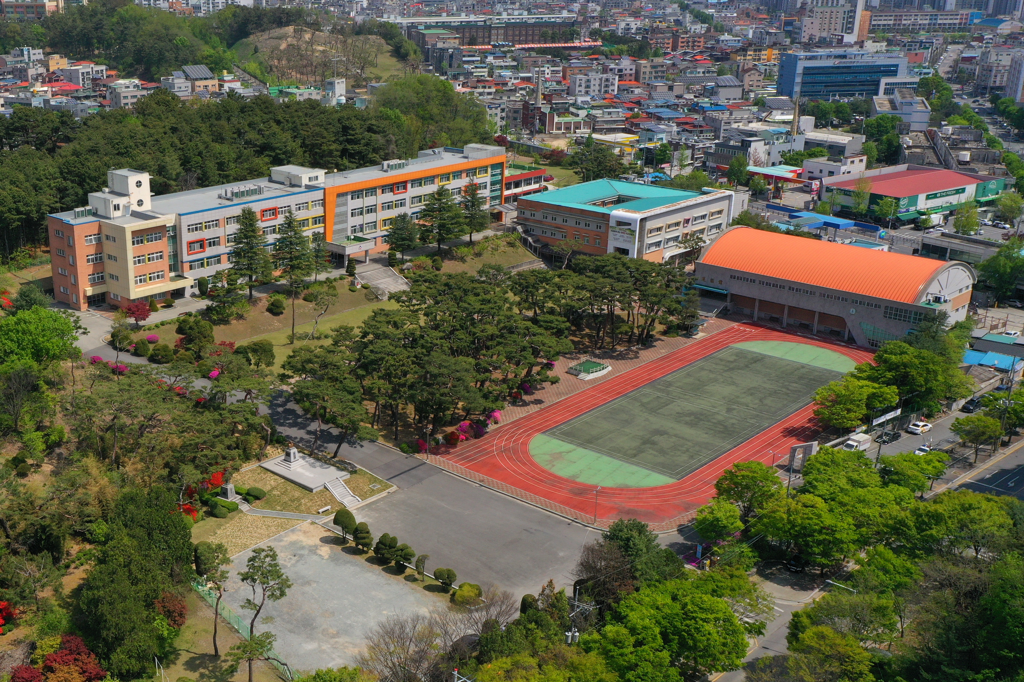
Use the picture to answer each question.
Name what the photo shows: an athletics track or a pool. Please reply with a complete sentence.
The image shows an athletics track.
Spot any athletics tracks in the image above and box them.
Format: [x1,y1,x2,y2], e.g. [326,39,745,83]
[426,320,915,525]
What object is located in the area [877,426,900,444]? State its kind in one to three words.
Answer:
car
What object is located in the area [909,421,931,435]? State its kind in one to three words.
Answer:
car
